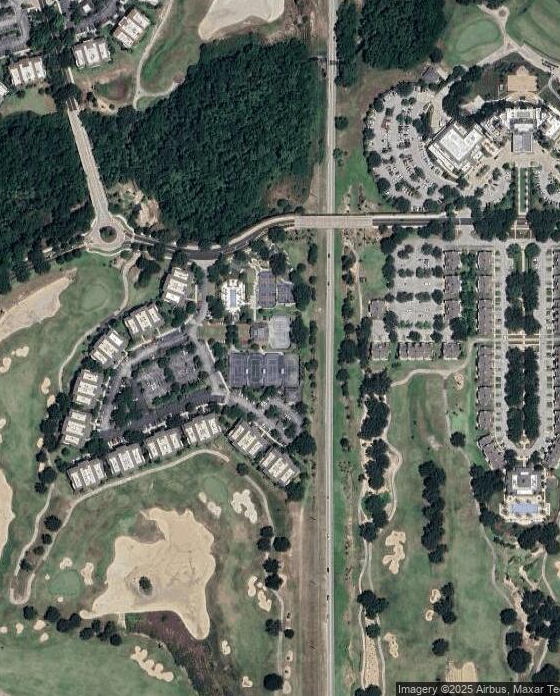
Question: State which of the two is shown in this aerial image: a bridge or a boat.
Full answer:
The image shows a bridge.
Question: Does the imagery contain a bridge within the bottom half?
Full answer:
No, I can find no bridge within the bottom half.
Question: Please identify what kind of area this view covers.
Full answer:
It's a golf course.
